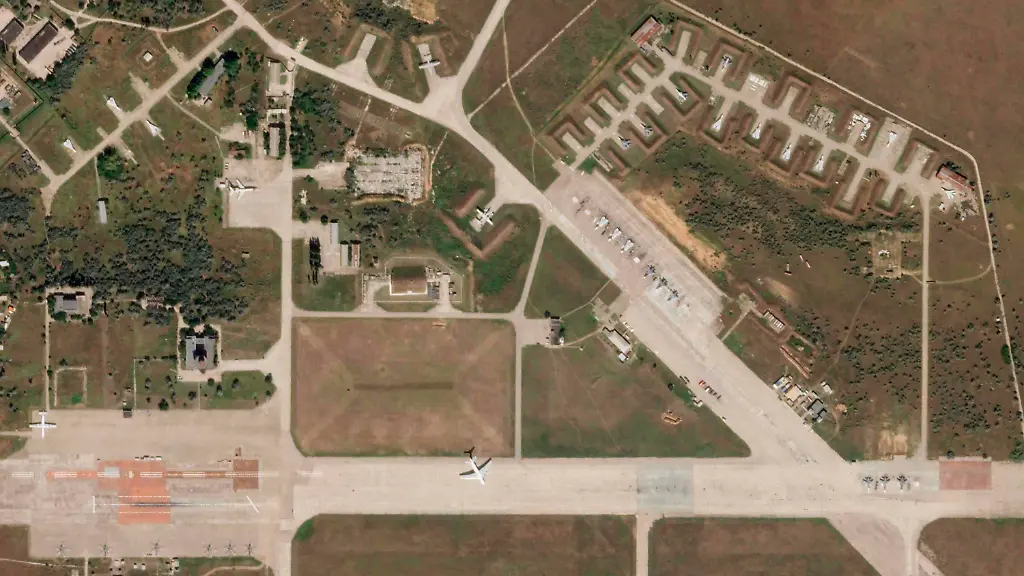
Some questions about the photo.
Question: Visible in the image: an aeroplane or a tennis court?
aeroplane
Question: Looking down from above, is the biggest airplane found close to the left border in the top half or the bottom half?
bottom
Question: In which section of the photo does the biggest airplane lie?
bottom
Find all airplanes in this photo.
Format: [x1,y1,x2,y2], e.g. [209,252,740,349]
[888,131,897,146]
[782,146,791,161]
[610,226,622,240]
[419,56,439,72]
[863,476,874,491]
[656,275,667,289]
[814,157,823,172]
[880,476,891,490]
[751,124,760,139]
[460,457,492,486]
[668,288,679,301]
[474,212,490,227]
[620,139,632,152]
[622,238,633,251]
[29,413,56,437]
[61,139,74,153]
[598,214,608,228]
[227,180,253,200]
[897,476,908,491]
[676,89,688,103]
[644,263,655,278]
[943,188,956,201]
[148,124,161,137]
[641,125,653,138]
[107,97,120,111]
[712,116,722,131]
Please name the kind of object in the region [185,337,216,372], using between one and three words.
building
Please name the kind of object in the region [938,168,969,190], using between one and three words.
hangar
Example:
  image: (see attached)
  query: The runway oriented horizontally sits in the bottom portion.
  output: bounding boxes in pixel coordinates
[290,457,1024,518]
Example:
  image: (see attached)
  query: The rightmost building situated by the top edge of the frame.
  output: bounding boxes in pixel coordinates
[631,17,662,48]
